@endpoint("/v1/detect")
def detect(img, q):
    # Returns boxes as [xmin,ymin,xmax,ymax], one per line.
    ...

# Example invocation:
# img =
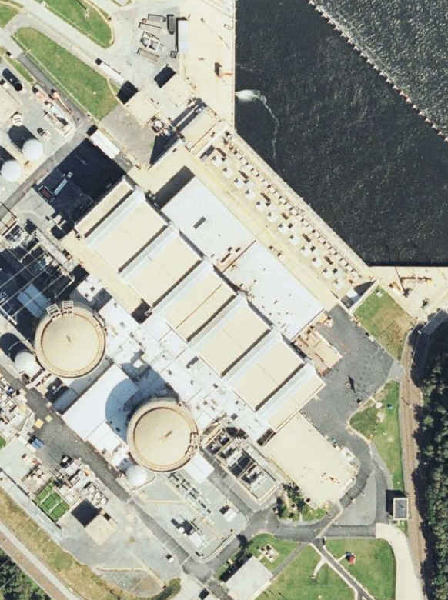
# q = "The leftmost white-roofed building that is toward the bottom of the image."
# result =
[0,438,34,489]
